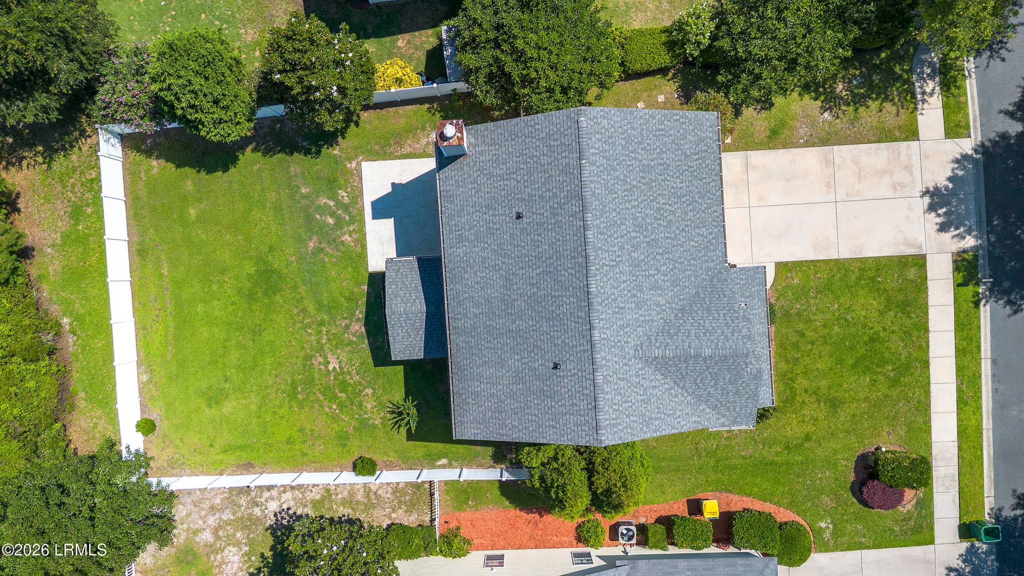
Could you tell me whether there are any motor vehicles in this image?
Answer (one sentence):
No, I find no motor vehicle anywhere in the image.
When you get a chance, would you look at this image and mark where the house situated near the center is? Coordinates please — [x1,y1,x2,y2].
[385,105,775,447]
